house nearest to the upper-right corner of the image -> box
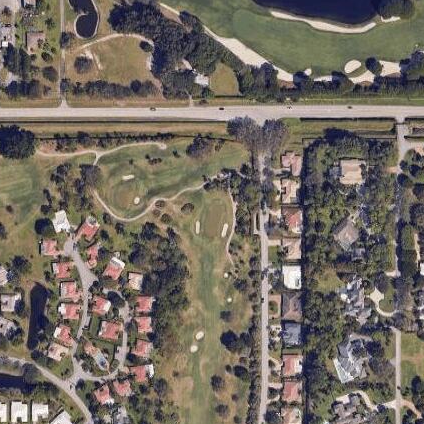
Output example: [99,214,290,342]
[339,159,365,187]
